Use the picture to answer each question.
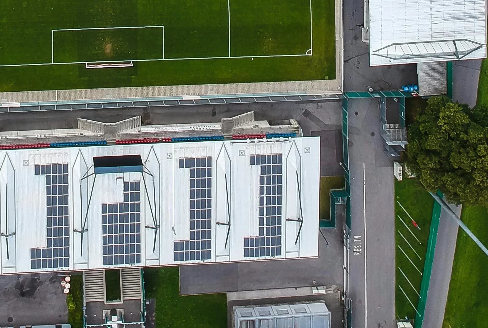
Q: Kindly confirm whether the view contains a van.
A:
No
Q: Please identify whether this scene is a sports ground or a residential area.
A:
sports ground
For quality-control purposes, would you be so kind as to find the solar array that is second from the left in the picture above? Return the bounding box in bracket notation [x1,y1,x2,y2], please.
[102,181,141,266]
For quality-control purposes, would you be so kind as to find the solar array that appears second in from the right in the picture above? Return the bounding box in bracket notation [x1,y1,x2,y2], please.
[174,156,212,262]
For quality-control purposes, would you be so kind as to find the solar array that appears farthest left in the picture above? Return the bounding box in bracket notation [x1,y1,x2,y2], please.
[30,163,70,269]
